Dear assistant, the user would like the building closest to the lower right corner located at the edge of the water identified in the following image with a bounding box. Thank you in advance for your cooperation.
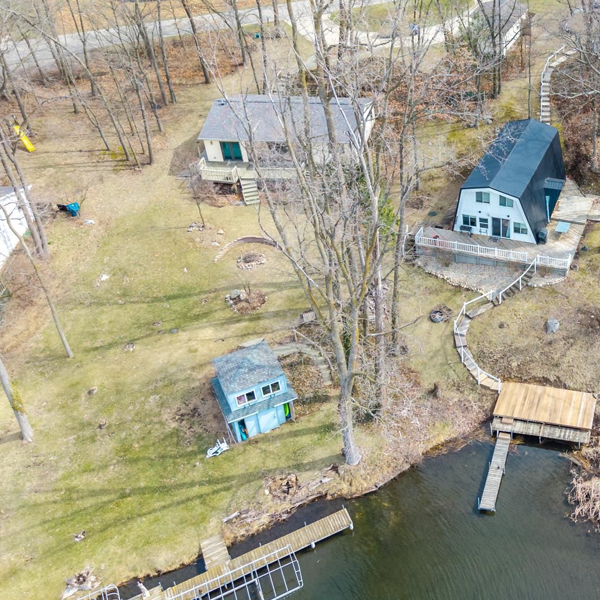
[491,383,596,456]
